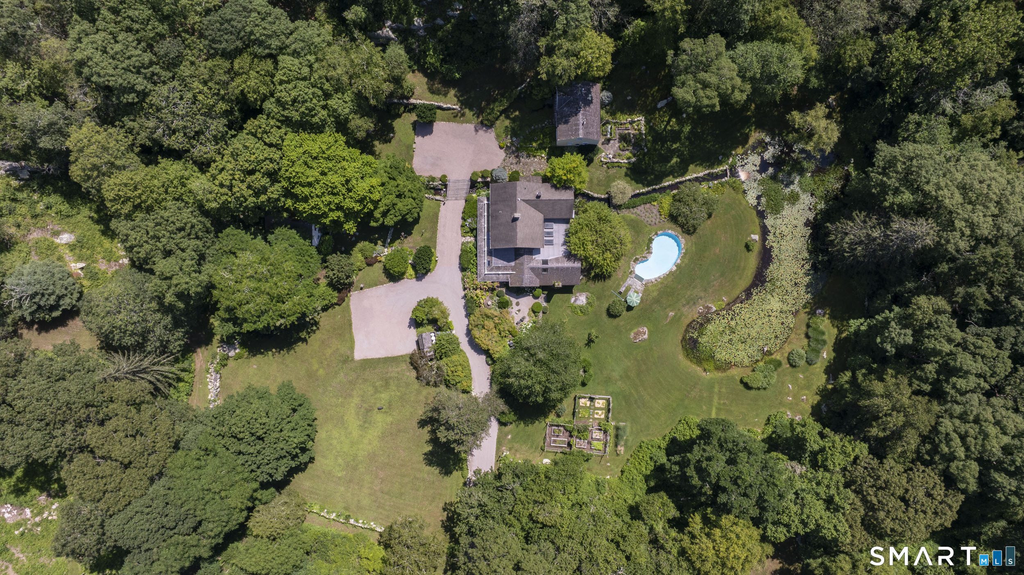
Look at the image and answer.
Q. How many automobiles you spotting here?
none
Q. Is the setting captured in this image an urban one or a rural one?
rural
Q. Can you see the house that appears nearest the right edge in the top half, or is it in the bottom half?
top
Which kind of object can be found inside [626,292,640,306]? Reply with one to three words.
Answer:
umbrella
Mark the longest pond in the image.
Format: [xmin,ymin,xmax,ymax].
[683,137,848,369]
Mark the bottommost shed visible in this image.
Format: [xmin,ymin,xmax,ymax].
[416,334,435,358]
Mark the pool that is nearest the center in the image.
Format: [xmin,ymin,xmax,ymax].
[629,227,687,285]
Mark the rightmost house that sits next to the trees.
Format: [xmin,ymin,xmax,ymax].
[552,77,600,145]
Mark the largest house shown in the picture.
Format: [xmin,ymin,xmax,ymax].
[477,177,581,286]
